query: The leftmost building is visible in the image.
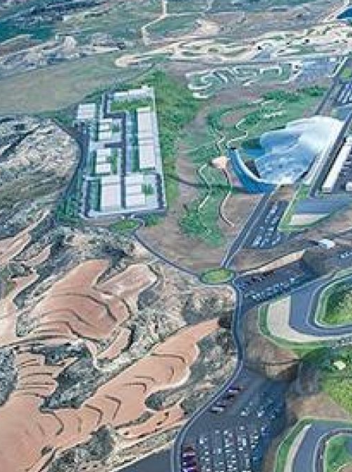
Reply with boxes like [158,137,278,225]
[73,100,98,119]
